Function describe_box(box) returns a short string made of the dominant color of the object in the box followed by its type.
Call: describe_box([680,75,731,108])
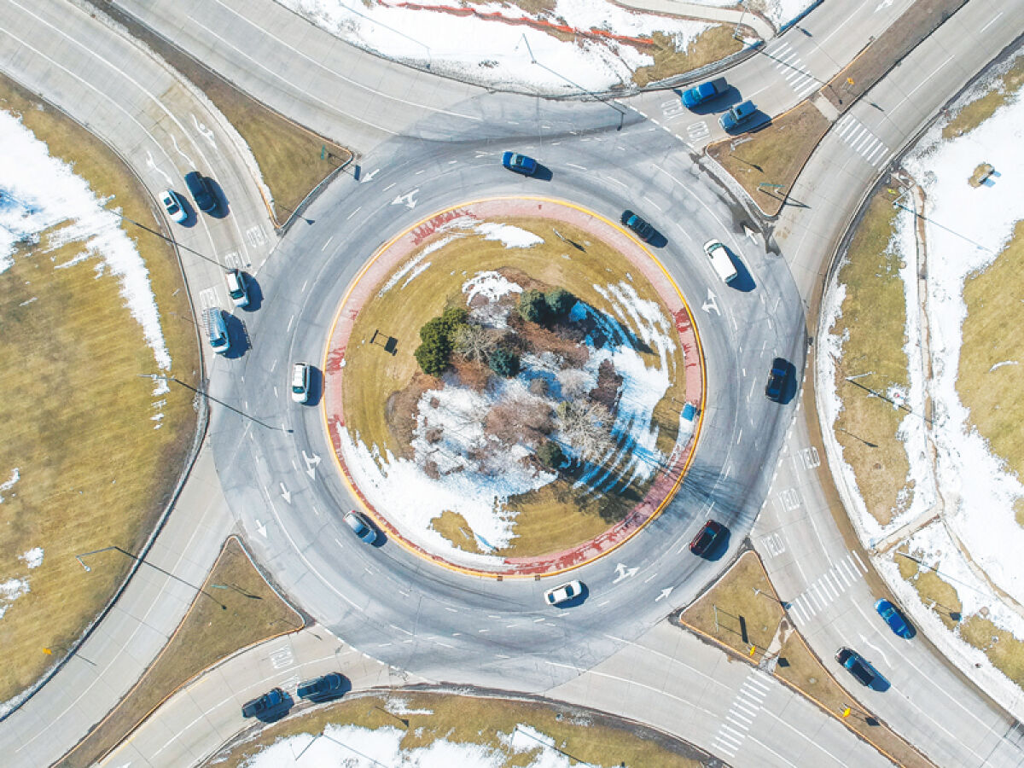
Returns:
blue truck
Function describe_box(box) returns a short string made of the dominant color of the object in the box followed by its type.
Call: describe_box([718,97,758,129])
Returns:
blue car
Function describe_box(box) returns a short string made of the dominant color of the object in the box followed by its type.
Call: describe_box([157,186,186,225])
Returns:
white car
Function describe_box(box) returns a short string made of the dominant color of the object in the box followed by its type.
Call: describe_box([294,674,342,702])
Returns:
blue car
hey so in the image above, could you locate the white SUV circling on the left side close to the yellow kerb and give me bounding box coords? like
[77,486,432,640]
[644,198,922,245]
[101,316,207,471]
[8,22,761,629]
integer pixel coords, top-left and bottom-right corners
[290,362,310,403]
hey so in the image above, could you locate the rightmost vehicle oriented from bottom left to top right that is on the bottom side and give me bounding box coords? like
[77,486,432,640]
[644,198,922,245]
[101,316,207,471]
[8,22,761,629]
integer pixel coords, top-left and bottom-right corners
[688,520,722,558]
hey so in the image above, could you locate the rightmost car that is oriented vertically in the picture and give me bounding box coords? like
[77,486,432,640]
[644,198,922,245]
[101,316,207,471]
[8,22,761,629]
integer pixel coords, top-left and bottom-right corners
[767,359,788,401]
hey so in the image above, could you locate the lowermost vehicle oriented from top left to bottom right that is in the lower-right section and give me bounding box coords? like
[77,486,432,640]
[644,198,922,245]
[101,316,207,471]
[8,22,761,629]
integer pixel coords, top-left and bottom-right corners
[836,648,877,690]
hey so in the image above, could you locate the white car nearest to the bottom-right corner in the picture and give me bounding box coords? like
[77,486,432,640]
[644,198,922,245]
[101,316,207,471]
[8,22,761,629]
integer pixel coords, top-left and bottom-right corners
[542,581,583,606]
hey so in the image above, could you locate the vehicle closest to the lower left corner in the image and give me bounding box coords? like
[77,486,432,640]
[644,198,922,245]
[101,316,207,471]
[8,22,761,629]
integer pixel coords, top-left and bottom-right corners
[238,688,291,720]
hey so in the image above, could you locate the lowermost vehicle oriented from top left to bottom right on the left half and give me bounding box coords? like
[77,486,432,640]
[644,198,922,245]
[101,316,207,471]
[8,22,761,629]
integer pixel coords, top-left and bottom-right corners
[341,509,376,547]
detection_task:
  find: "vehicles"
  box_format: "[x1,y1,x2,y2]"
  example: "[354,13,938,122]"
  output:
[836,648,877,690]
[718,97,758,129]
[294,674,342,702]
[204,307,230,354]
[877,599,913,640]
[180,168,214,213]
[688,520,722,558]
[499,150,537,173]
[290,362,310,403]
[704,237,738,283]
[157,186,186,225]
[767,359,788,401]
[238,688,291,720]
[341,509,376,547]
[223,267,249,308]
[680,75,731,108]
[542,581,583,606]
[618,208,656,240]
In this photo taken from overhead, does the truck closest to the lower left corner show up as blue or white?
blue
